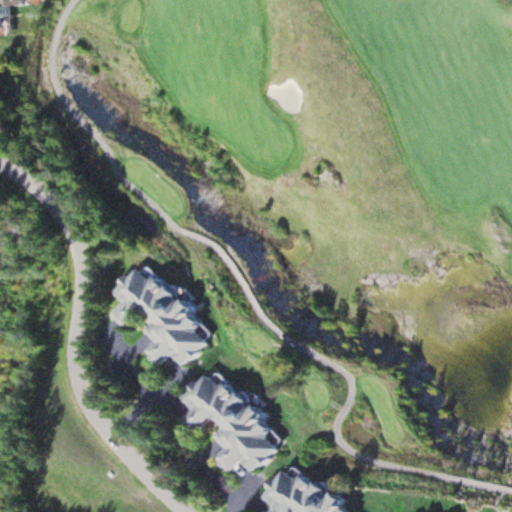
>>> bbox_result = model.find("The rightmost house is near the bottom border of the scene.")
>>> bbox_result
[256,466,351,512]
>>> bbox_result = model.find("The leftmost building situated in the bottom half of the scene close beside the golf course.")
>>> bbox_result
[110,268,211,368]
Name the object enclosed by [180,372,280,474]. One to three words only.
house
